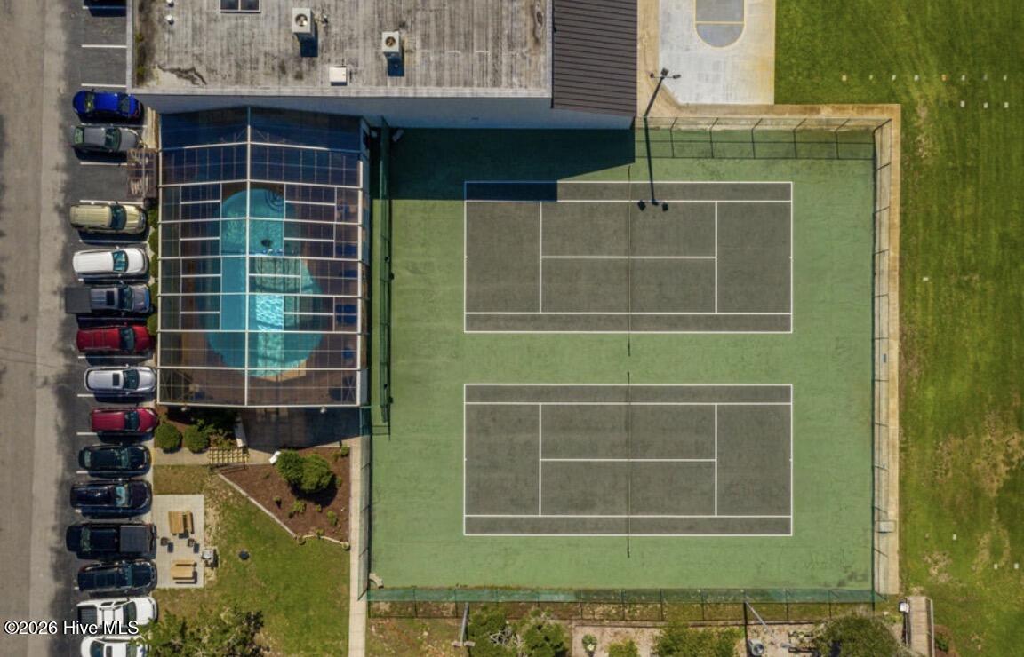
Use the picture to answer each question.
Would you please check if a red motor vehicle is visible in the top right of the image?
No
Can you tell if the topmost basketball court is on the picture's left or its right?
right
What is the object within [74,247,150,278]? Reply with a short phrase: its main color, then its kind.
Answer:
white car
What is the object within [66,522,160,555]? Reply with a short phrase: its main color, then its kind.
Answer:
black truck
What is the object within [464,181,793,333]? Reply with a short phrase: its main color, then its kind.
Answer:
gray tennis court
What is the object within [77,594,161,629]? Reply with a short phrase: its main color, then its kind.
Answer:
white truck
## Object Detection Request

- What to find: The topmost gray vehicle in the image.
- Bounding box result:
[71,123,142,153]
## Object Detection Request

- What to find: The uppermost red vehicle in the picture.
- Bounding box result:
[79,323,155,355]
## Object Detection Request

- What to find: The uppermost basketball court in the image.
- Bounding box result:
[659,0,775,104]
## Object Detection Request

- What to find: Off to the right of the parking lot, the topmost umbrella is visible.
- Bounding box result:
[340,304,360,323]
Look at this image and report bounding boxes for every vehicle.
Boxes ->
[74,89,146,120]
[80,444,154,473]
[79,323,155,355]
[66,522,160,555]
[74,247,150,278]
[93,405,160,436]
[65,284,153,316]
[70,203,149,235]
[81,559,160,592]
[81,634,156,657]
[73,480,155,511]
[71,123,142,153]
[85,365,157,395]
[82,0,129,10]
[77,594,161,629]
